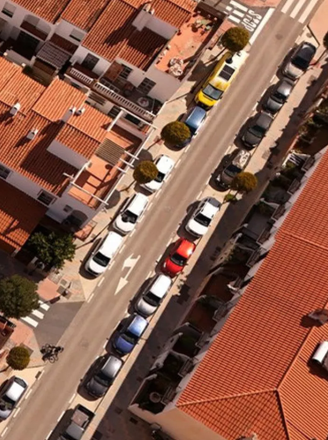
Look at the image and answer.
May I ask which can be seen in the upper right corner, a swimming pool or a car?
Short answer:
car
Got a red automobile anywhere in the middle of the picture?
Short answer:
Yes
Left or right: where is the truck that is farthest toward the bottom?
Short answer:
left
